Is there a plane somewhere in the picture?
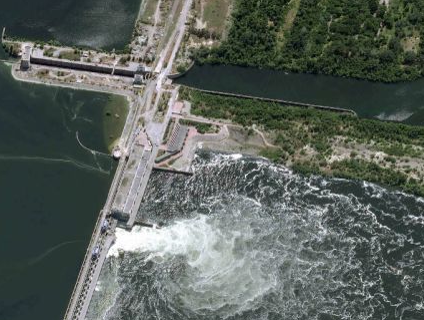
No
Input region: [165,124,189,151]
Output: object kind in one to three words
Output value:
building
